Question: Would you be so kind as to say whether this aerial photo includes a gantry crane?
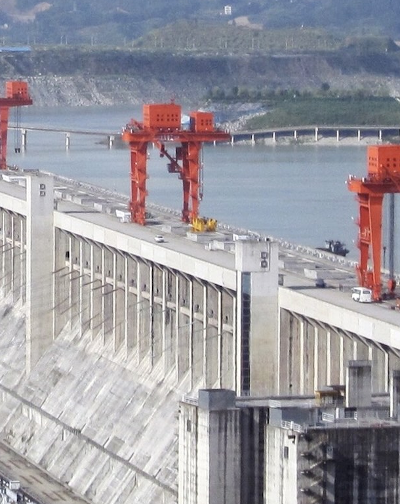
Yes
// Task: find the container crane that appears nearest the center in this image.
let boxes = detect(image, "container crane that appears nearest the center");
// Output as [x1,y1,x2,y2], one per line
[118,96,229,224]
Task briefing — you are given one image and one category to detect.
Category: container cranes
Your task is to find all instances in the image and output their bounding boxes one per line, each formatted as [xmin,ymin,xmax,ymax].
[0,77,25,168]
[342,143,400,299]
[118,96,229,224]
